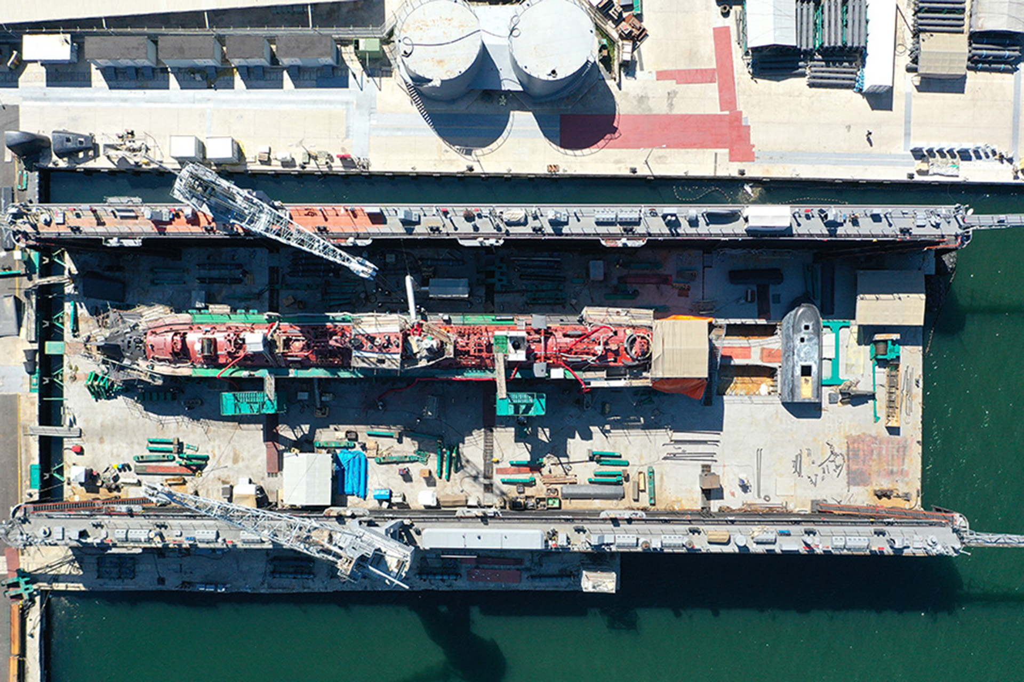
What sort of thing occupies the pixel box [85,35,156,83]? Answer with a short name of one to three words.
building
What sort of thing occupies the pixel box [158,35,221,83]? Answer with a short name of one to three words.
building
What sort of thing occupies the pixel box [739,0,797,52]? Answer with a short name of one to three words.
shed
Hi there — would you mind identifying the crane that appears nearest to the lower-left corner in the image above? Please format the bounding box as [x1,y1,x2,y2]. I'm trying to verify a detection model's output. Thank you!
[145,479,433,591]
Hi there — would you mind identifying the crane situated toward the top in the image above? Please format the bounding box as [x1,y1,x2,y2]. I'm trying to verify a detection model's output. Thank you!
[140,150,408,302]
